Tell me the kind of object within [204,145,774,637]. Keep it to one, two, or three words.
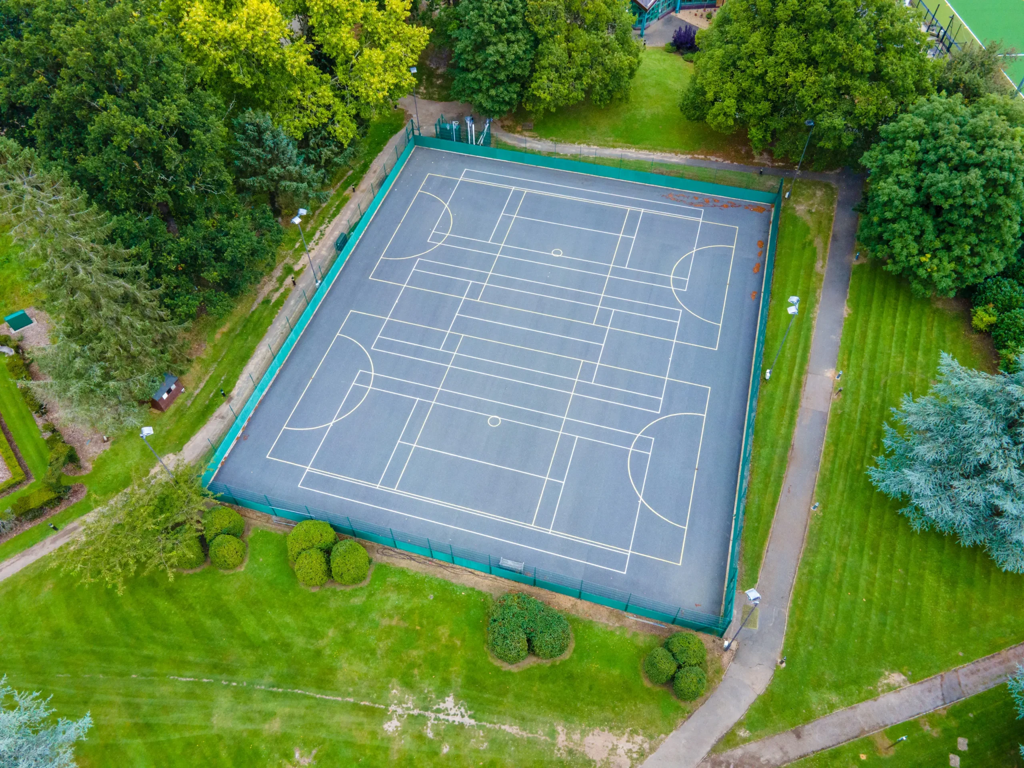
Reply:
sports court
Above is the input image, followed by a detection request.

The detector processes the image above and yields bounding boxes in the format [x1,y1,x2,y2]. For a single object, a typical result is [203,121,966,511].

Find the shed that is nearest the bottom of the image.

[140,370,187,412]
